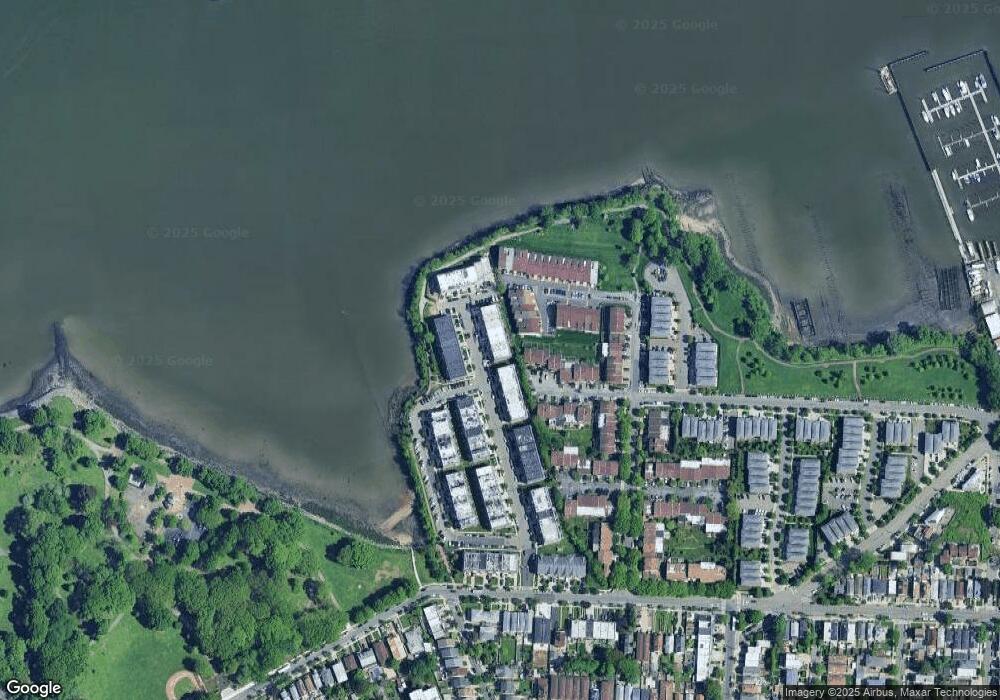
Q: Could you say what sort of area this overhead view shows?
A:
residential area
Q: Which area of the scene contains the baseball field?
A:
bottom left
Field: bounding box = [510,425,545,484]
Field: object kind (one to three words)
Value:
building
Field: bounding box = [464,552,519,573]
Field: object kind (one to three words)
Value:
building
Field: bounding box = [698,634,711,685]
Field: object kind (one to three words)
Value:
house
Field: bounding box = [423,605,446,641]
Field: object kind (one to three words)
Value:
house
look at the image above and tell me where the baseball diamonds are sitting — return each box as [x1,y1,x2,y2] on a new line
[168,673,208,700]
